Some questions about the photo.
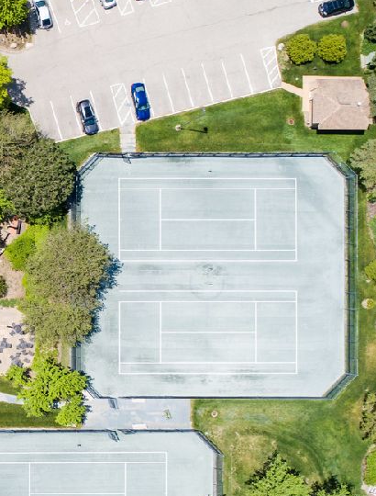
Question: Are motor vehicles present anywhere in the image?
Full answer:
Yes, the photo shows a motor vehicle.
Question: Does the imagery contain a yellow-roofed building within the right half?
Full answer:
No, no yellow-roofed building can be made out within the right half.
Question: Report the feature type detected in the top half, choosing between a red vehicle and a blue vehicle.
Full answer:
You can see a blue vehicle in the top half.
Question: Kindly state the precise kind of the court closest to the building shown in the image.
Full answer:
The court closest to the building appears to be a tennis court.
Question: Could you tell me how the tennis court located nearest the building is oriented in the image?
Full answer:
What the image shows is the tennis court located nearest the building lying from left to right.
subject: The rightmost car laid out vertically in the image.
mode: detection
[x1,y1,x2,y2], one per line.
[132,81,153,119]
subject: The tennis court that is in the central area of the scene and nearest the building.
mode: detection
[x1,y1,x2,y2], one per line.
[118,178,298,261]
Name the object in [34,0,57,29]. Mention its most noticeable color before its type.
white car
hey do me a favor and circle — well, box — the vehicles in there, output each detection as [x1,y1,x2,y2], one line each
[101,0,117,9]
[77,97,99,134]
[132,81,153,119]
[319,0,360,15]
[34,0,57,29]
